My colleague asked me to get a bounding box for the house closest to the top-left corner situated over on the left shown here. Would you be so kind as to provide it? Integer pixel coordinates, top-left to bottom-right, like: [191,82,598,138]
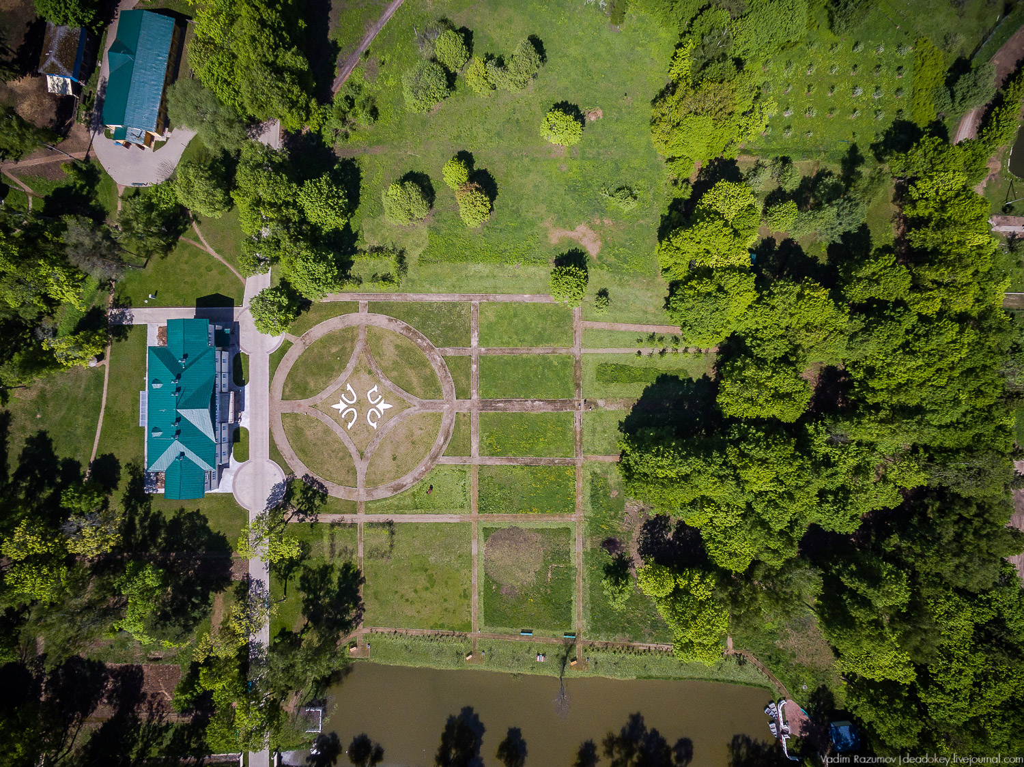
[37,15,100,101]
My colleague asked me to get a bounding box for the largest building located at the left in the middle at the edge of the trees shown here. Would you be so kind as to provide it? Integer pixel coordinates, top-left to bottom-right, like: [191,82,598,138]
[139,318,247,500]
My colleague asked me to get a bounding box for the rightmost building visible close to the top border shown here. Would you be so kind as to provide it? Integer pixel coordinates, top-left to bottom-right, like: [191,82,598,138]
[104,8,187,152]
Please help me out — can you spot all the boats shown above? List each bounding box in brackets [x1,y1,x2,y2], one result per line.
[763,707,776,718]
[768,722,776,737]
[768,702,777,717]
